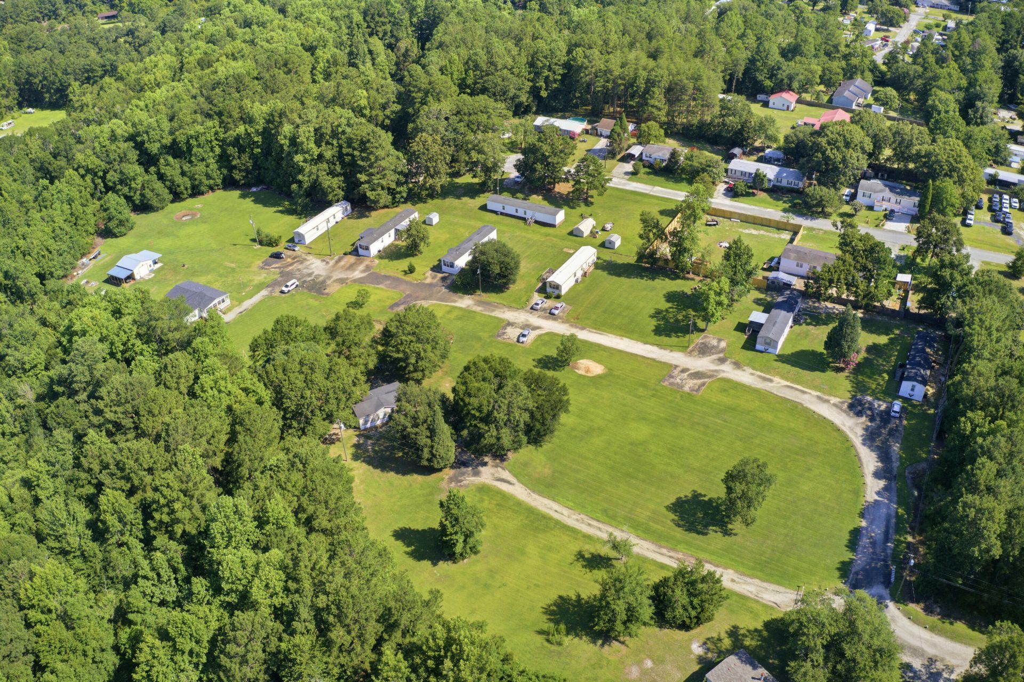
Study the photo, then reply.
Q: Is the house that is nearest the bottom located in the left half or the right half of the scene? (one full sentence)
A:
It is on the right.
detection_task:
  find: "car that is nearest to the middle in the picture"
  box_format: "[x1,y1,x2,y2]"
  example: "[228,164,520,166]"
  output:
[519,329,532,343]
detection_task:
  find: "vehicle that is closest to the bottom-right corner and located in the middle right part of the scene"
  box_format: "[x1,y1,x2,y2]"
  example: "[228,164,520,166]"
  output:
[890,401,903,418]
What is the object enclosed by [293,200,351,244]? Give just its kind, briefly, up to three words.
house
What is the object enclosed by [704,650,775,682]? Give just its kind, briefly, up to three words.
house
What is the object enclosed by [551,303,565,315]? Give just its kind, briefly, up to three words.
vehicle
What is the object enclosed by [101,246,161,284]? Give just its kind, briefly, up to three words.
building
